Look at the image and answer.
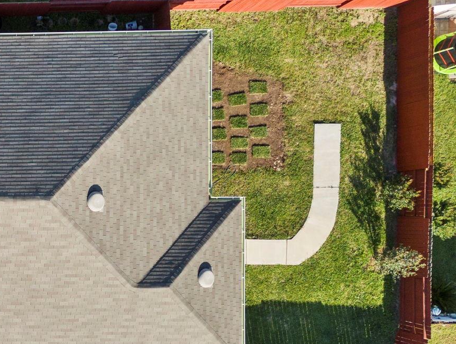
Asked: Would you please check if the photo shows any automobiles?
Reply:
No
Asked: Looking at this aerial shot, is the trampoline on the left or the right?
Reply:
right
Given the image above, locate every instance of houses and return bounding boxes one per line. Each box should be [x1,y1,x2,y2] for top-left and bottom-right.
[0,27,247,344]
[428,0,456,16]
